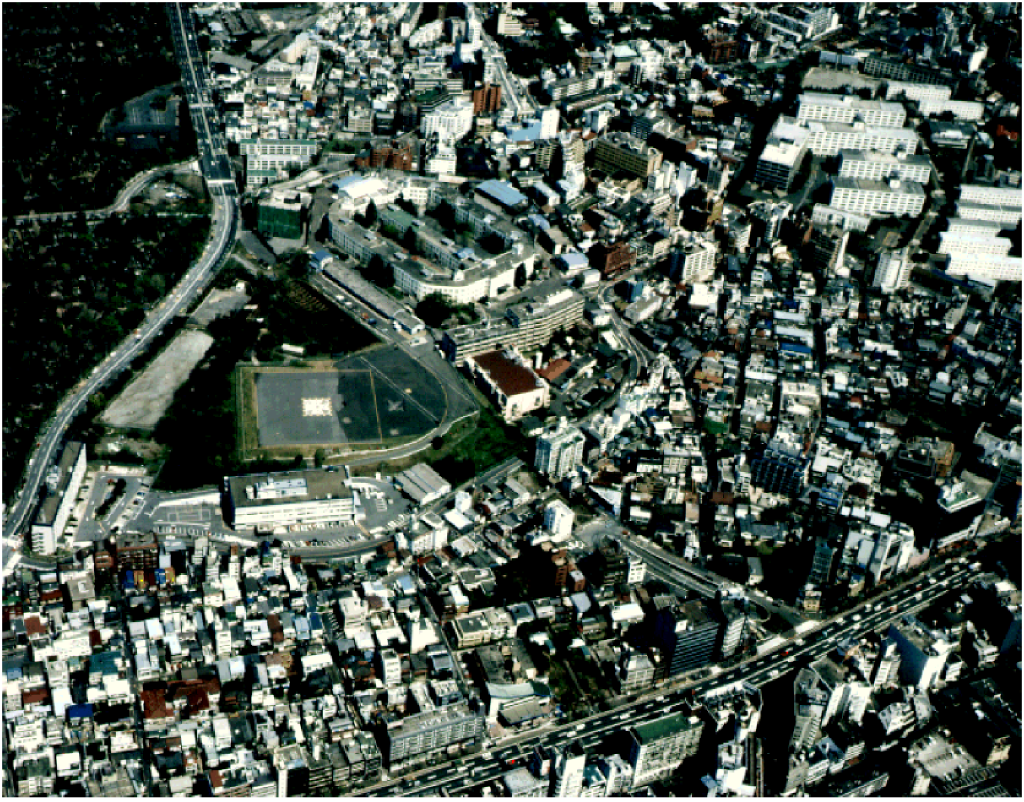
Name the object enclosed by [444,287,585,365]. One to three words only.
building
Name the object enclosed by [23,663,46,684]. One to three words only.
house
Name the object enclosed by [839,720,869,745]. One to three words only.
house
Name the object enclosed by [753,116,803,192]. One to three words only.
building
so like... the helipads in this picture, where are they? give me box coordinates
[299,396,335,417]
